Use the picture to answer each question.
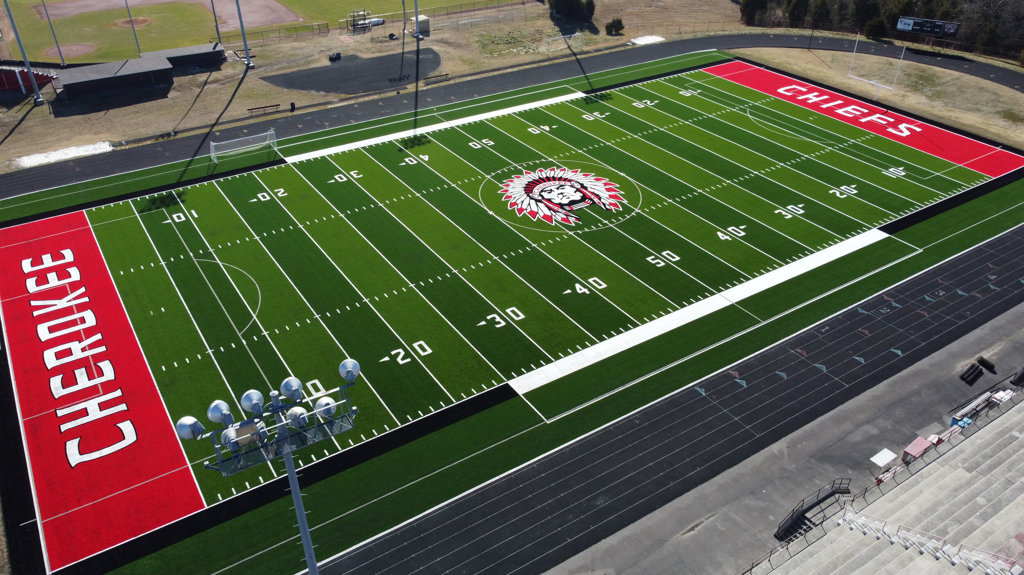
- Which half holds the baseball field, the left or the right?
left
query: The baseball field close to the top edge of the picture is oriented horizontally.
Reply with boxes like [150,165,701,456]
[0,0,543,62]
